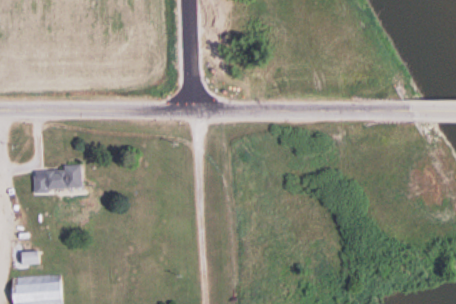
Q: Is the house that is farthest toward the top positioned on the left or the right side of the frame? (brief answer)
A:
left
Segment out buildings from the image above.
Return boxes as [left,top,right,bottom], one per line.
[32,164,89,201]
[12,276,62,304]
[20,251,40,266]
